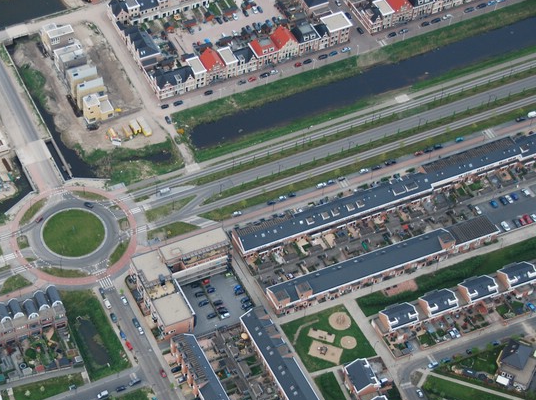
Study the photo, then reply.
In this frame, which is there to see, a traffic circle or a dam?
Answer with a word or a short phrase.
traffic circle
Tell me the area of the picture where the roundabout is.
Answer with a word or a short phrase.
left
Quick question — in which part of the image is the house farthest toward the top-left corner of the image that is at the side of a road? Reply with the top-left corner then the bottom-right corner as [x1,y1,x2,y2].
[41,22,74,53]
